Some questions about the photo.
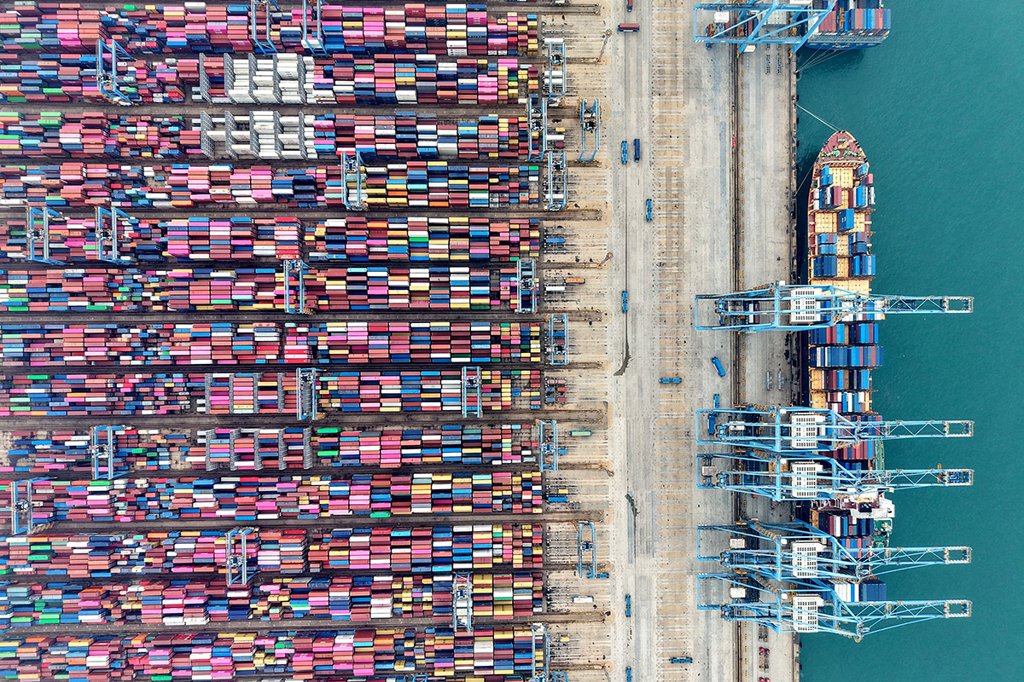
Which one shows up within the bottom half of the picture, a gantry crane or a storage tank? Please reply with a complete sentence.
It is a gantry crane that can be seen within the bottom half of the picture.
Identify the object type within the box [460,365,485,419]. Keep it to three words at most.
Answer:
crane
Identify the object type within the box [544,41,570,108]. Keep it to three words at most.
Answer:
crane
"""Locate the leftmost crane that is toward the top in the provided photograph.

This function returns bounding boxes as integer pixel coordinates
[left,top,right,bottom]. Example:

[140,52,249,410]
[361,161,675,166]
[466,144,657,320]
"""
[28,205,74,264]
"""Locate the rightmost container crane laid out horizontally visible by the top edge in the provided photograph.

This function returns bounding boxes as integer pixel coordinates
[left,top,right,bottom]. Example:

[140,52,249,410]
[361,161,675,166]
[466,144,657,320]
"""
[692,0,852,64]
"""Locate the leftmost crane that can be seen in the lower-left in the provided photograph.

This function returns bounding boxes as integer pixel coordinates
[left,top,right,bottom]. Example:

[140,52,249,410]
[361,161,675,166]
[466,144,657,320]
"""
[11,476,59,534]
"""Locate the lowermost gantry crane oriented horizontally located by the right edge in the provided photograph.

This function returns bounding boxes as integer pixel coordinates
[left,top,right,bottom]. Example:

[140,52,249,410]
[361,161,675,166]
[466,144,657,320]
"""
[696,558,973,641]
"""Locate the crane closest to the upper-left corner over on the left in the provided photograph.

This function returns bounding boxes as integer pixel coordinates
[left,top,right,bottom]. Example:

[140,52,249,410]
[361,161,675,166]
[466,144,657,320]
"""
[93,37,139,107]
